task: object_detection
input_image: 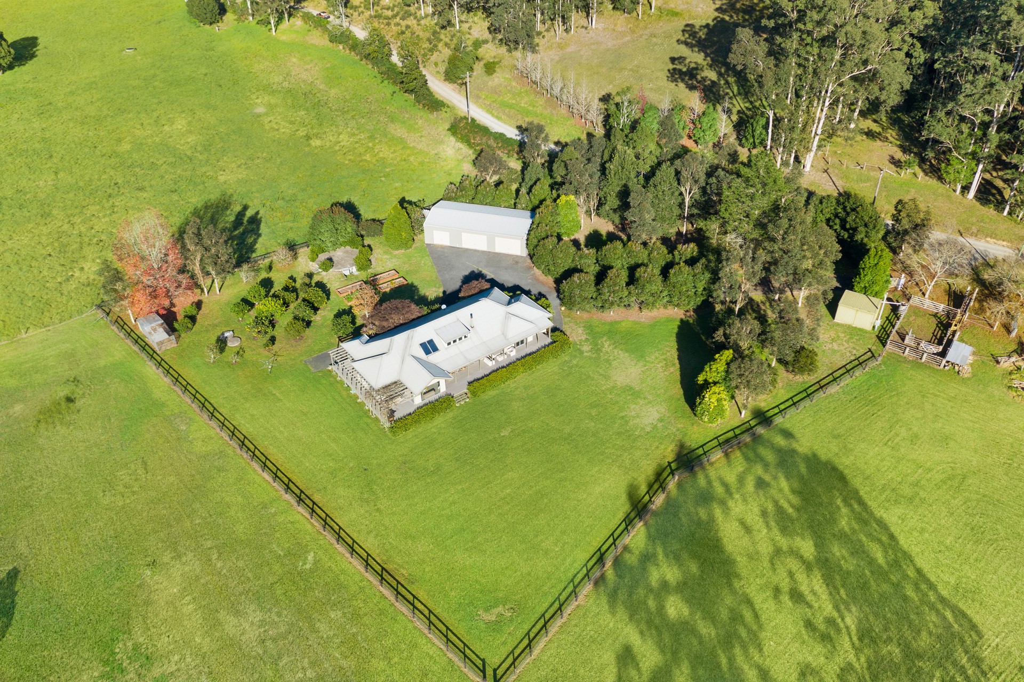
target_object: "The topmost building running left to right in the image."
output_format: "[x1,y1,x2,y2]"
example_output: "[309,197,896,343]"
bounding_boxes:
[423,200,536,256]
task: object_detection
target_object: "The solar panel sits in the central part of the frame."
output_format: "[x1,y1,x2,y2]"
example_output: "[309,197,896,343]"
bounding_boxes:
[420,338,440,361]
